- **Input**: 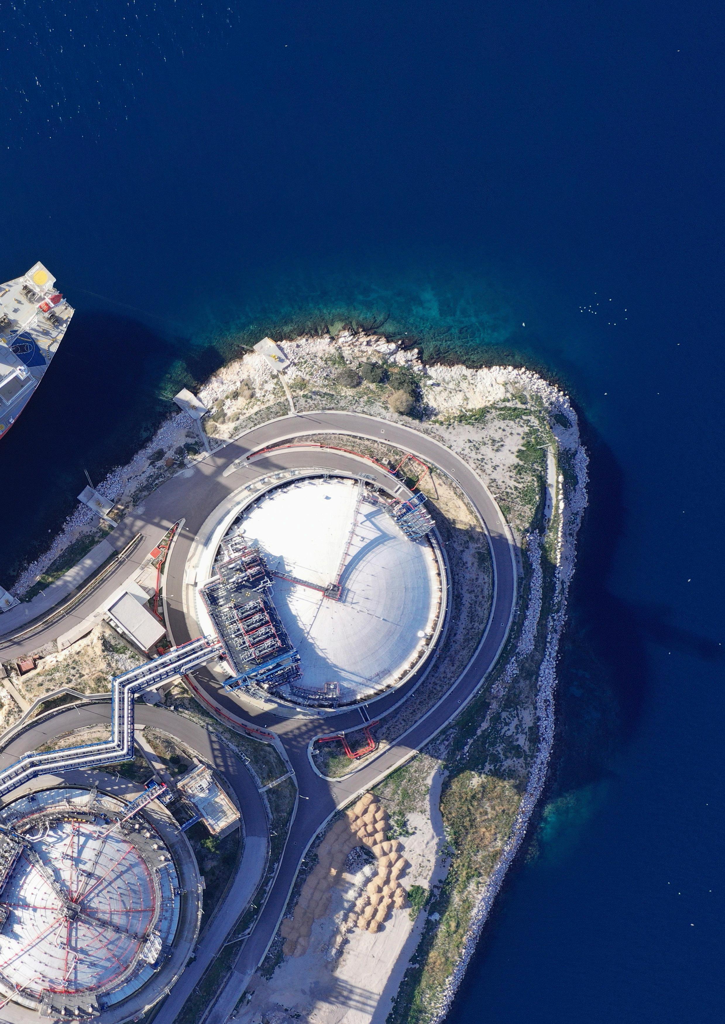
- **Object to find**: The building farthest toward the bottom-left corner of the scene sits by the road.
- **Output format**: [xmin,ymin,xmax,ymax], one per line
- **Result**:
[167,758,242,839]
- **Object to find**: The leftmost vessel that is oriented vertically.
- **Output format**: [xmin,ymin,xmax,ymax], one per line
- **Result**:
[0,261,75,436]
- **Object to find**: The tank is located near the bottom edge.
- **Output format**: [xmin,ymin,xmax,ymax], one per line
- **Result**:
[0,774,194,1024]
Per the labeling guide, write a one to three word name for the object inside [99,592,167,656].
building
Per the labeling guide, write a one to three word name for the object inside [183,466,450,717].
storage tank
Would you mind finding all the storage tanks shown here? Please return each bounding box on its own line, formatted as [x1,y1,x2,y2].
[0,774,194,1024]
[183,466,450,717]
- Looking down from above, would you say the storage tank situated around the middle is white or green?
white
